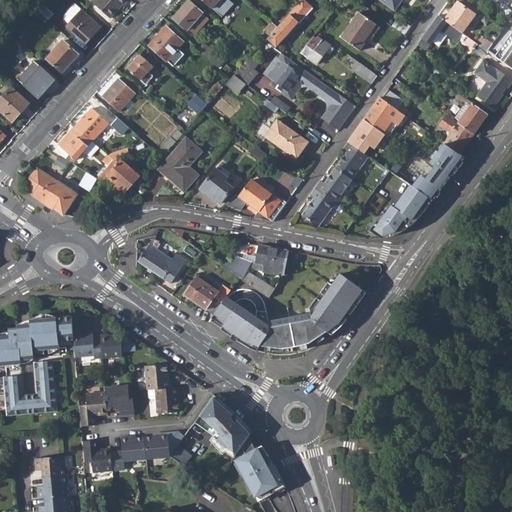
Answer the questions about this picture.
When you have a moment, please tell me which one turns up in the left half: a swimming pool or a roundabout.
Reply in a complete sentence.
The feature located in the left half is a roundabout.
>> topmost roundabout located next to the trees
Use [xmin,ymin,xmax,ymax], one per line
[30,230,103,284]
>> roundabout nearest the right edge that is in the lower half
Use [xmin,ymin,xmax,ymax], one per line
[264,384,328,447]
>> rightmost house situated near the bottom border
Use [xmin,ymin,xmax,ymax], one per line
[233,447,284,504]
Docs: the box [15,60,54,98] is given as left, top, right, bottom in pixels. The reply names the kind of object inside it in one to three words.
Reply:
house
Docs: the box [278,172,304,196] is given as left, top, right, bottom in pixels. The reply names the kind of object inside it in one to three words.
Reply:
shed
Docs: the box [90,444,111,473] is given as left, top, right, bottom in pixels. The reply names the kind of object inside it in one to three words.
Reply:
house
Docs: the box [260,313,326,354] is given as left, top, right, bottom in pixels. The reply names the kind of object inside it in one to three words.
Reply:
building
